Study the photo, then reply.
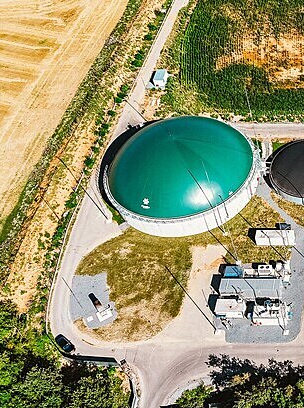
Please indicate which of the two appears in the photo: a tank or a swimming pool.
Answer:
tank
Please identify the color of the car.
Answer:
black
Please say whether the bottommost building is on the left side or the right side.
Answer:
right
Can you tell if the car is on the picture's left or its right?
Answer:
left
